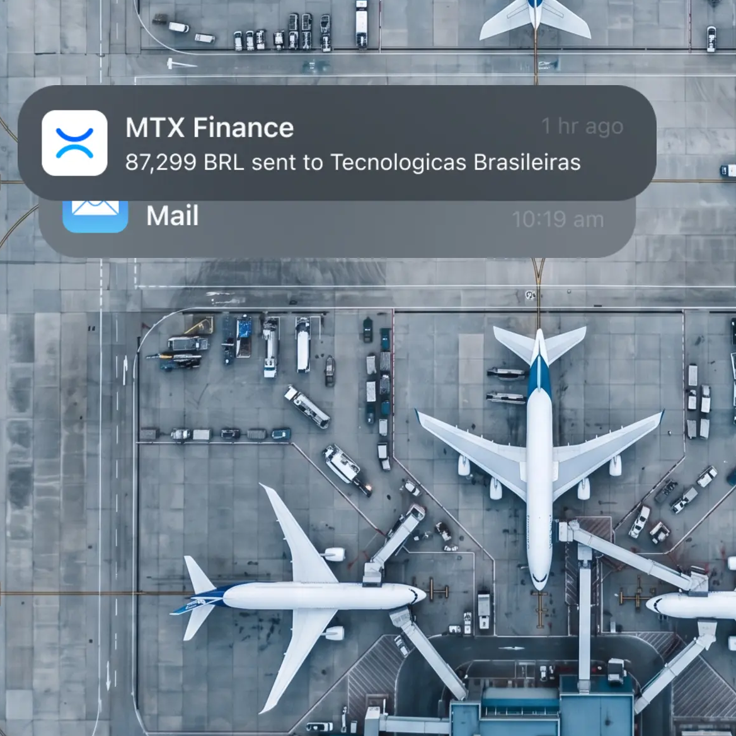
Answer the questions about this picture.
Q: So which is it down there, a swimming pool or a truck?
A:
truck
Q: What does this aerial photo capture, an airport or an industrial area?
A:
airport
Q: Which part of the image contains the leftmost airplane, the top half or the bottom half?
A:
bottom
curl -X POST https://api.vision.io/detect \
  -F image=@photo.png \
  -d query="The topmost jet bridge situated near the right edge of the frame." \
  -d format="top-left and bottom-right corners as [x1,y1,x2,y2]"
[553,517,709,594]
